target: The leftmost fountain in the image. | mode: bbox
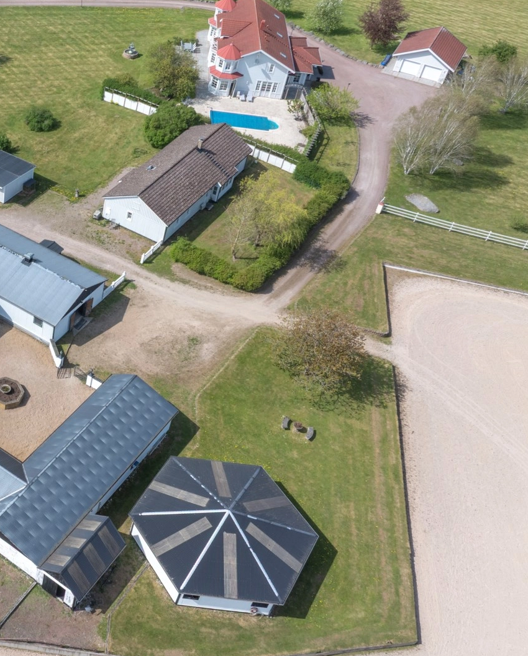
[121,40,140,58]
